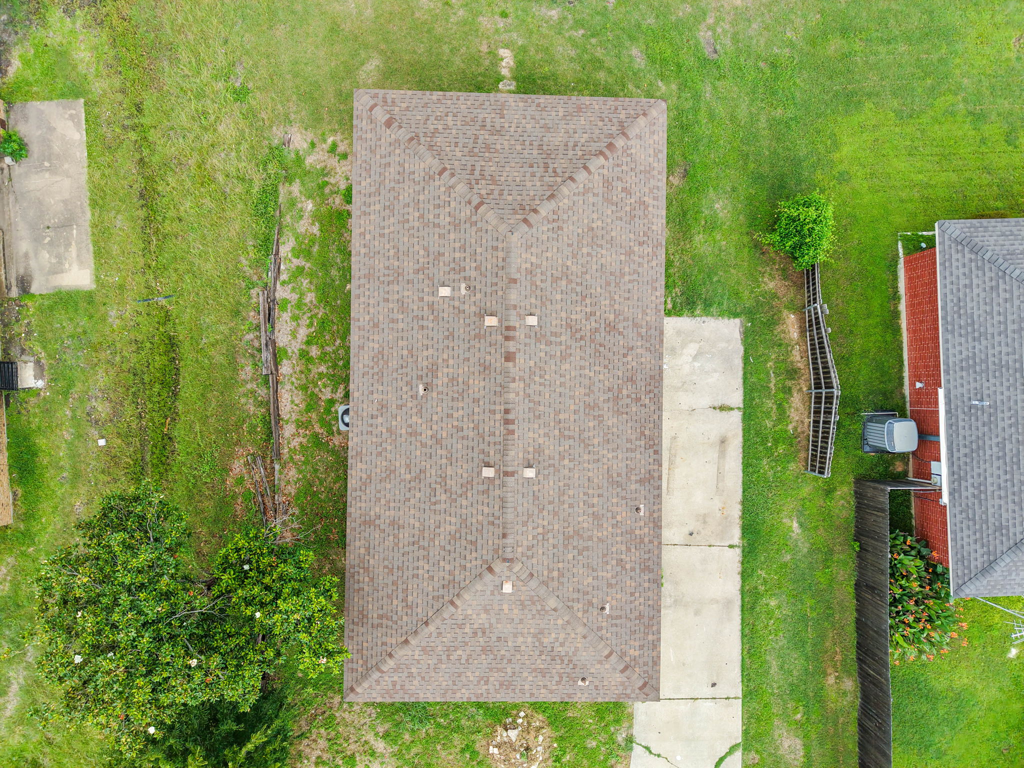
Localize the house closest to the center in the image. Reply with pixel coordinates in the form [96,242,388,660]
[342,88,668,703]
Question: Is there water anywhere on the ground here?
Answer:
No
